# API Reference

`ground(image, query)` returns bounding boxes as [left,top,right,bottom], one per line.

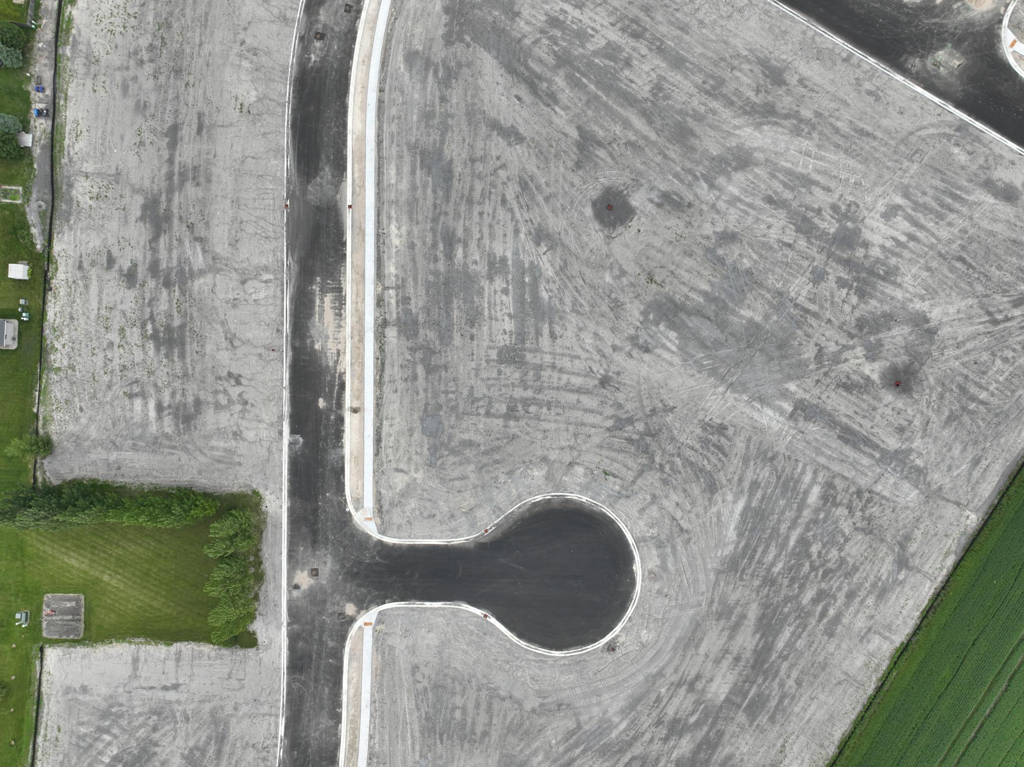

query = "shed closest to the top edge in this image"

[11,263,35,281]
